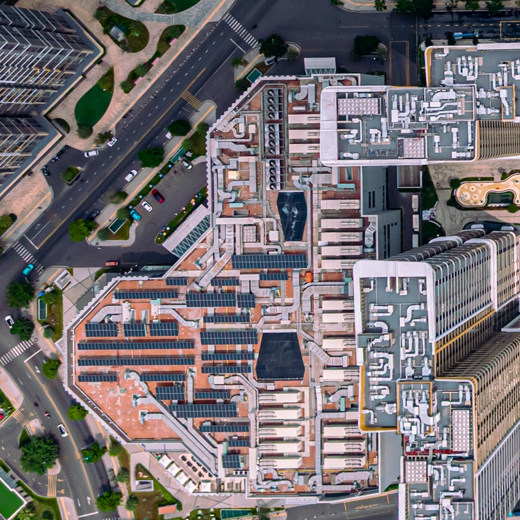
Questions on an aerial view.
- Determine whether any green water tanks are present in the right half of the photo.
No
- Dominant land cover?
buildings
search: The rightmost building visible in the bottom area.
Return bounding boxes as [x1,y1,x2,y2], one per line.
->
[354,220,520,520]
